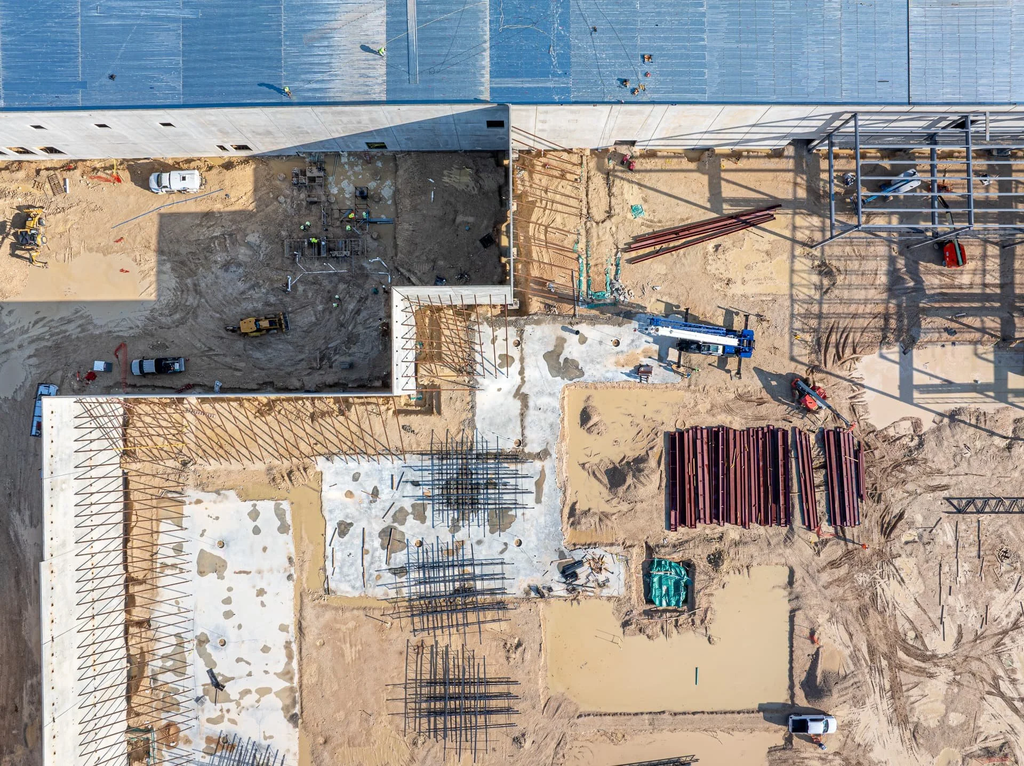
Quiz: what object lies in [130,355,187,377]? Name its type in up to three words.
truck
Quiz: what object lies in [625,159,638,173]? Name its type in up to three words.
vehicle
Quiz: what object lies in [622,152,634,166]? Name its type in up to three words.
vehicle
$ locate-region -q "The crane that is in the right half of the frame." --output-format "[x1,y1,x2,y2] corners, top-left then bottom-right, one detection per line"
[634,308,764,379]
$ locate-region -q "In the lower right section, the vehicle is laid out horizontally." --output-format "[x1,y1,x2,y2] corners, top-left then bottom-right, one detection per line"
[785,713,837,737]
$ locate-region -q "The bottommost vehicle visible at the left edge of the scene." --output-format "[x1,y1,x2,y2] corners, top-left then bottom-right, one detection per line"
[29,380,63,437]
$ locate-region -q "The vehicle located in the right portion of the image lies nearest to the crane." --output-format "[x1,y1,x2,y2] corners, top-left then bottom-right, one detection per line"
[790,379,854,436]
